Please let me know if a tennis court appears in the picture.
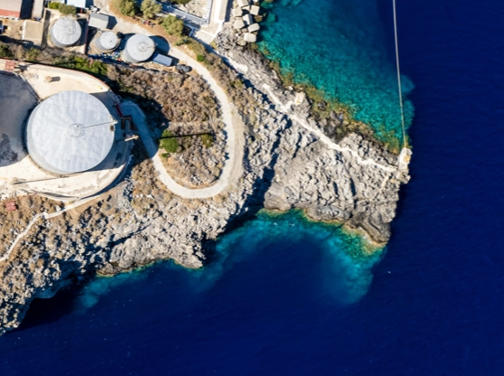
No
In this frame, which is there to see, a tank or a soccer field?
tank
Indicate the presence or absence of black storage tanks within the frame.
No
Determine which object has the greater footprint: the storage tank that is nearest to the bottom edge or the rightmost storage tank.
the storage tank that is nearest to the bottom edge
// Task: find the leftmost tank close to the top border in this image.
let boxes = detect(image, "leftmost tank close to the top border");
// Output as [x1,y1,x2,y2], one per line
[50,16,82,48]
